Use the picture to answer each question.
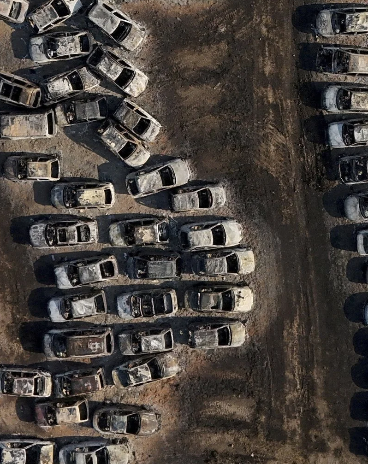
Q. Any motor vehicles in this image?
Yes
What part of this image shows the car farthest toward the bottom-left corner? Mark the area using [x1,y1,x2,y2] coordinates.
[0,438,59,464]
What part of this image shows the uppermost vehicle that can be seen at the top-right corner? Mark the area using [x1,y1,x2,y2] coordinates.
[315,6,368,36]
